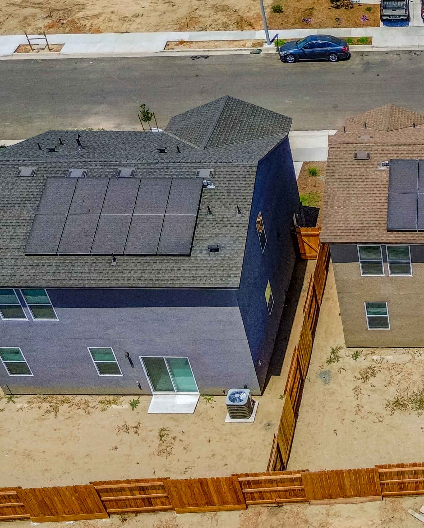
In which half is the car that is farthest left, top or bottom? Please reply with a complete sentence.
You can find the car that is farthest left in the top half.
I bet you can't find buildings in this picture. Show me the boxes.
[321,103,424,347]
[0,96,302,396]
